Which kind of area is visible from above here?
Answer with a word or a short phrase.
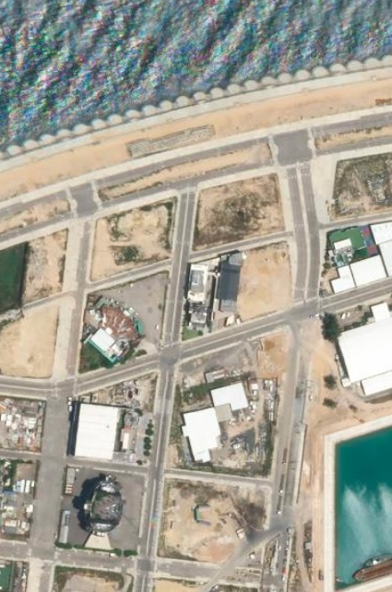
port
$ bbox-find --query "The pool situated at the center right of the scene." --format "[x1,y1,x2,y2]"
[336,252,353,268]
